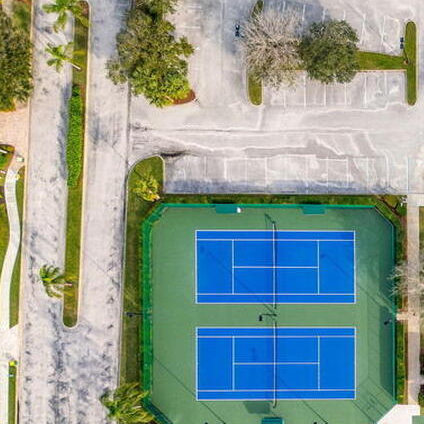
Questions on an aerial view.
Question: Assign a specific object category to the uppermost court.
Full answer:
Looking closely, the uppermost court is a tennis court.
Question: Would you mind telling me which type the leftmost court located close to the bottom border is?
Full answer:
I'd say the leftmost court located close to the bottom border is a tennis court.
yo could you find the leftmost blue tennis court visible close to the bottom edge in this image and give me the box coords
[196,322,355,407]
